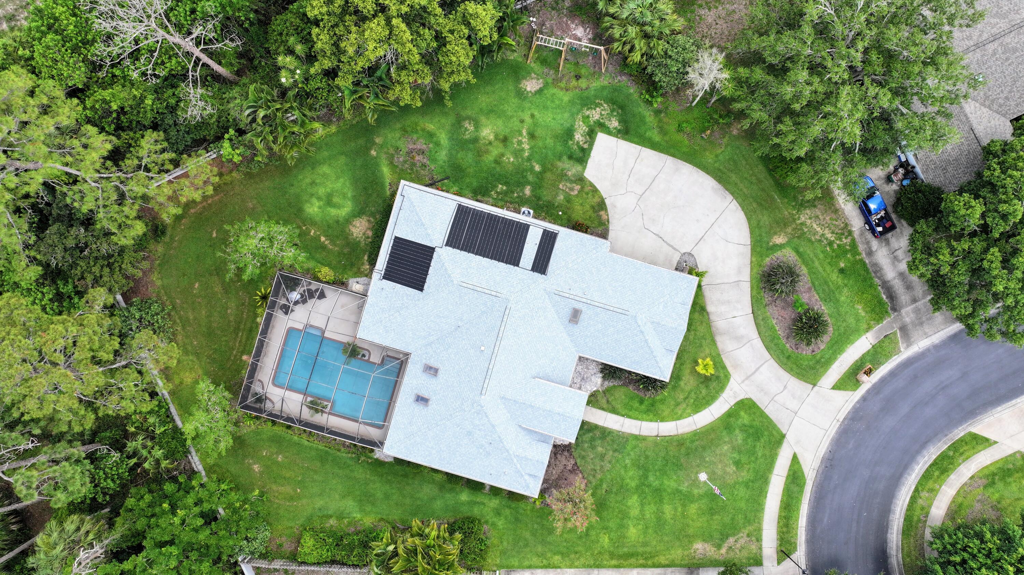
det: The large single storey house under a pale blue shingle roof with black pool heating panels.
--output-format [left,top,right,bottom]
[354,178,701,499]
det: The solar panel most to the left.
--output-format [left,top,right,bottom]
[379,235,434,292]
